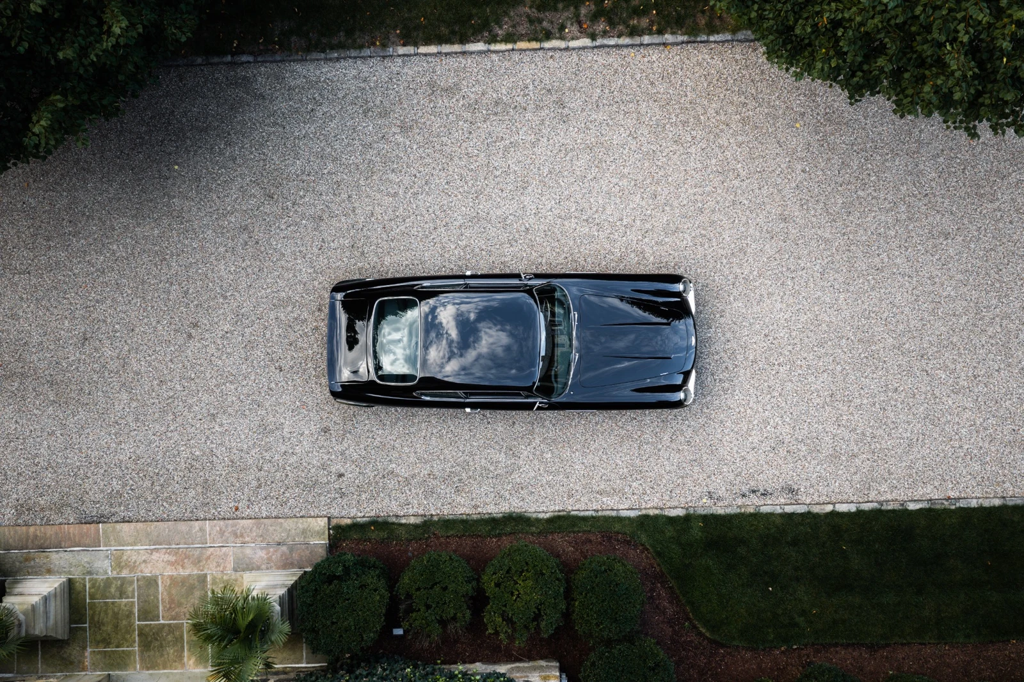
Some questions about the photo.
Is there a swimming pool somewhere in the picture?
No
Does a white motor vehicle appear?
No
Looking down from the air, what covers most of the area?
paved ground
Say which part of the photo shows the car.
center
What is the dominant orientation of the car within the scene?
from left to right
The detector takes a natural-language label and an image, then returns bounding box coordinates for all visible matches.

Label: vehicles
[328,269,698,414]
